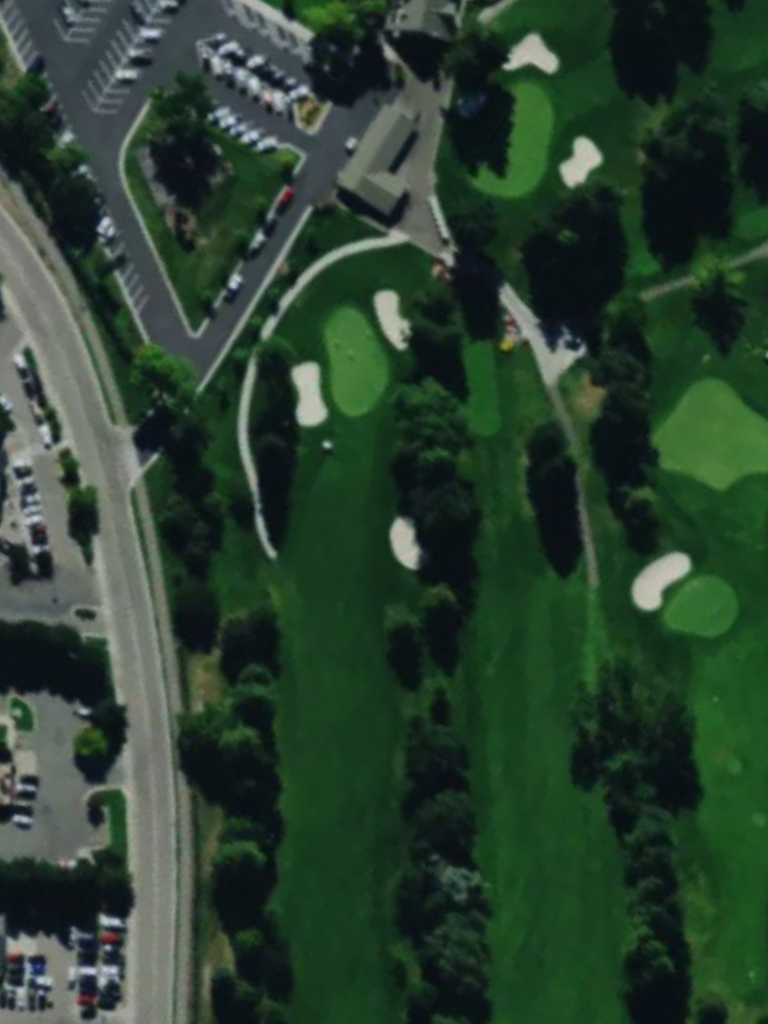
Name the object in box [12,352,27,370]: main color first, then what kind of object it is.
white car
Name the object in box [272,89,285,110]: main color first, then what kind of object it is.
white vehicle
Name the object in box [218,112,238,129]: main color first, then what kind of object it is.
white car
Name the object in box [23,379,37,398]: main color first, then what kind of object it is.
black car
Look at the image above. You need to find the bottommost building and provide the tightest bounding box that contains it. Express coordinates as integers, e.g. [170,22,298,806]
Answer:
[335,103,415,215]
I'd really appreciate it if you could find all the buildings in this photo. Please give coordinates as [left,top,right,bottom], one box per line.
[383,0,458,36]
[335,103,415,215]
